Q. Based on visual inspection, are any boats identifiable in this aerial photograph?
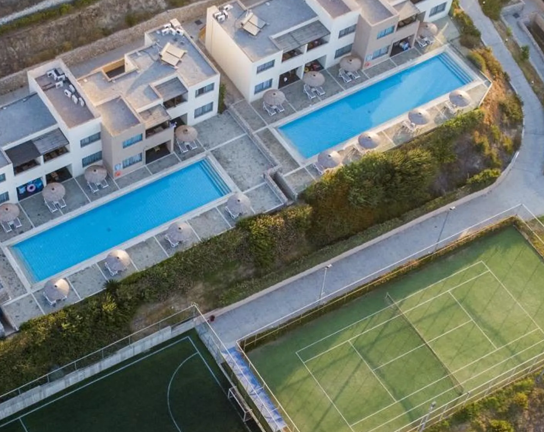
No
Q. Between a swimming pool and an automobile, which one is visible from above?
swimming pool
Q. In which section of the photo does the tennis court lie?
bottom right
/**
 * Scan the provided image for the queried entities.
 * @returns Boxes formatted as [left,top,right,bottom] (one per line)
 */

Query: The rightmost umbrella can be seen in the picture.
[445,90,470,112]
